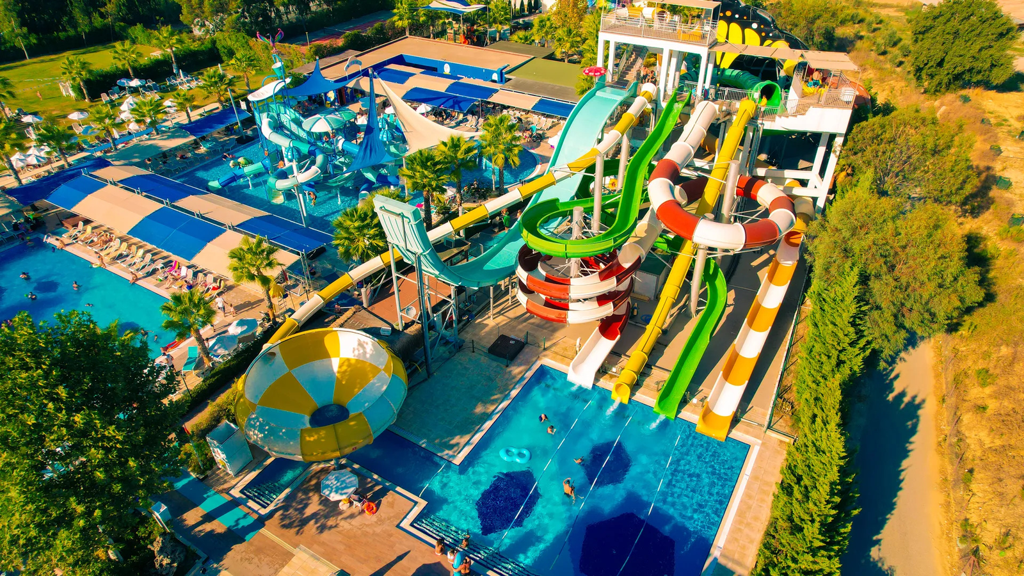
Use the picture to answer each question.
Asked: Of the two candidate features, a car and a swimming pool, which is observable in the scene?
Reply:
swimming pool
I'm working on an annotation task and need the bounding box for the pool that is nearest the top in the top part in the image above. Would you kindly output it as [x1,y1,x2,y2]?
[181,118,543,226]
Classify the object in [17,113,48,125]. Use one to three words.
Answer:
umbrella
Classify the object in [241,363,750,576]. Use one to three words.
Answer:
swimming pool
